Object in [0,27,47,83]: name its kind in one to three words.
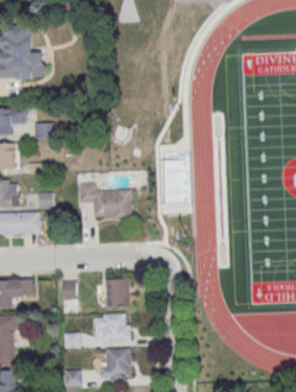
house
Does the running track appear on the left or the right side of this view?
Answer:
right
